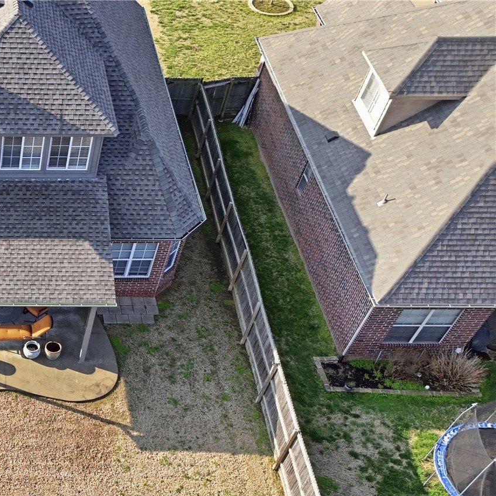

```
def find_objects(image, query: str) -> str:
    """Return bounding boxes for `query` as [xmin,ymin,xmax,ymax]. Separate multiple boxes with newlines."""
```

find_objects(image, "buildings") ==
[0,0,211,361]
[241,0,496,364]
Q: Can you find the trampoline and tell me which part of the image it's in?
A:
bottom right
